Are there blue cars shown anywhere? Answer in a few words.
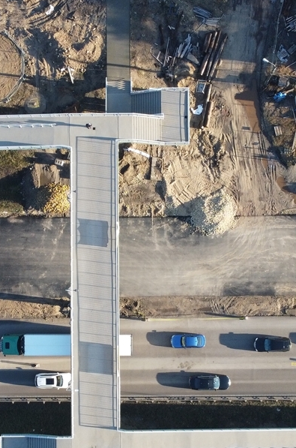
Yes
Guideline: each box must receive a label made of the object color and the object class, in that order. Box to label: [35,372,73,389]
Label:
white car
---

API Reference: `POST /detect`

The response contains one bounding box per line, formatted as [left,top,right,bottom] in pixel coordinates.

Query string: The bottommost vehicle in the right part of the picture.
[188,373,230,391]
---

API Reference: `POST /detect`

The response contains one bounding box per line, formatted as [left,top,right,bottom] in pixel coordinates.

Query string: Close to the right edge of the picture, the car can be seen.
[254,335,291,353]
